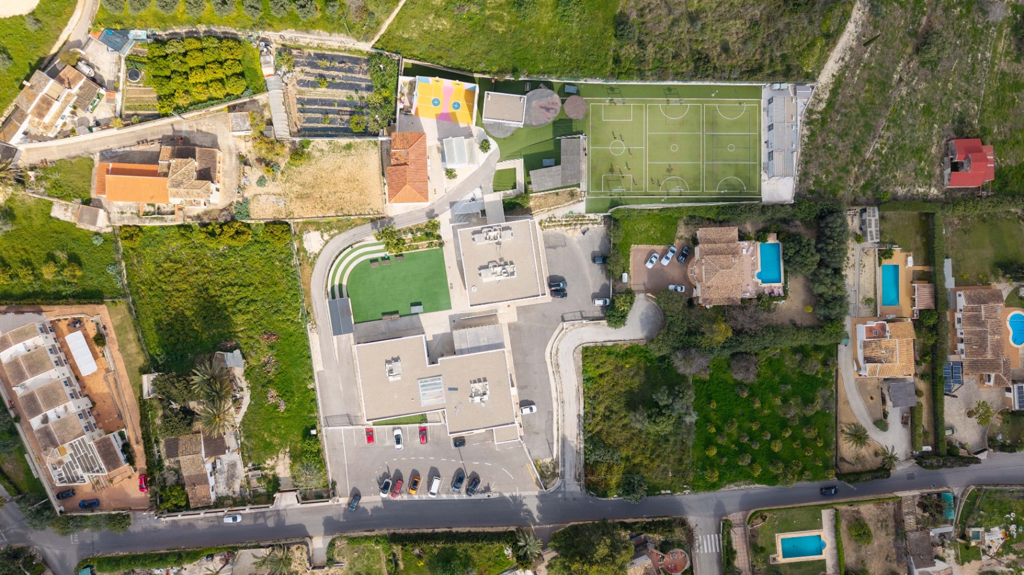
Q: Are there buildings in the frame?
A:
Yes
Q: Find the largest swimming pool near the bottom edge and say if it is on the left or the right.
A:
right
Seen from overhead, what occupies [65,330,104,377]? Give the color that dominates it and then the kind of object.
white tent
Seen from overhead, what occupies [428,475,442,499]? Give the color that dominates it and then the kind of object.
white vehicle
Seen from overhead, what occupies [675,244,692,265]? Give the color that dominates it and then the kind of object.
black car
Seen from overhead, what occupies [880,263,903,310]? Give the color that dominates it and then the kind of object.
blue swimming pool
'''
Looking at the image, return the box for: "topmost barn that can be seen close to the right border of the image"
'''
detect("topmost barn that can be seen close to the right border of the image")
[938,138,995,194]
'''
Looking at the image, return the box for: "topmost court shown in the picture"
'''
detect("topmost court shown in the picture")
[412,75,479,128]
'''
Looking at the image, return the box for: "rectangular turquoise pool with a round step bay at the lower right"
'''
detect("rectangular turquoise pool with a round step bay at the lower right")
[770,530,828,564]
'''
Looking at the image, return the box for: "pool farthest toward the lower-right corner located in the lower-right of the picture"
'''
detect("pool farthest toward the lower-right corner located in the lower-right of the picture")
[969,528,984,546]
